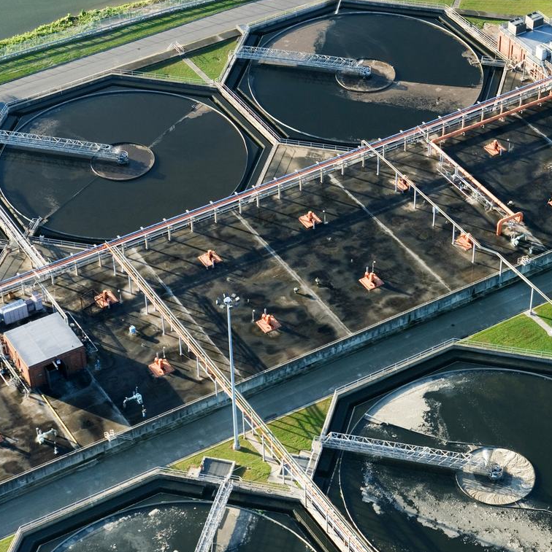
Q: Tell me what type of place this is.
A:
industrial area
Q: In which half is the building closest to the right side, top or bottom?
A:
top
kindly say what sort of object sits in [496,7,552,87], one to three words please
building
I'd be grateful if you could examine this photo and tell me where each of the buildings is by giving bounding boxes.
[1,310,84,388]
[496,7,552,87]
